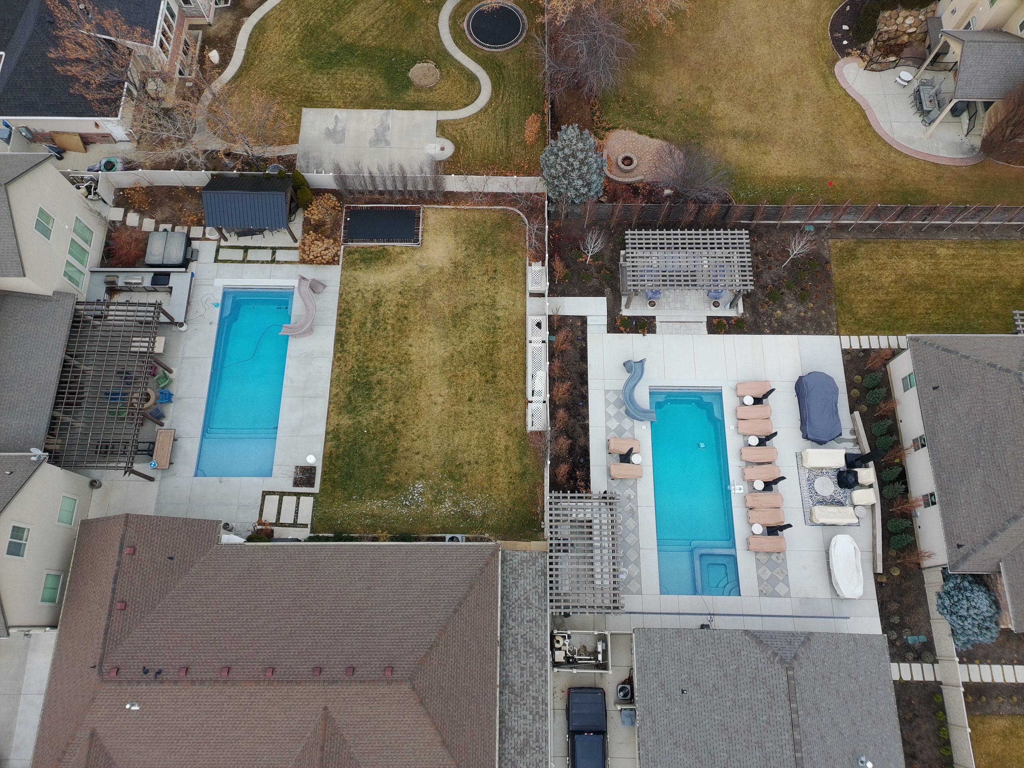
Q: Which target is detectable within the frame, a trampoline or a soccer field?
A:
trampoline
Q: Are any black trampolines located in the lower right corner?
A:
No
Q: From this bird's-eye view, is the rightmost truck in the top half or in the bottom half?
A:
bottom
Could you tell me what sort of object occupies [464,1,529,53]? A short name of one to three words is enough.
trampoline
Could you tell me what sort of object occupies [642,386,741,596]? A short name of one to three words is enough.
swimming pool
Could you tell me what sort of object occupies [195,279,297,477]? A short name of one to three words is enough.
swimming pool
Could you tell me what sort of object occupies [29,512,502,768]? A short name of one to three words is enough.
house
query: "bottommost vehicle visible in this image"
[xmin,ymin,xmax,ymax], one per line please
[566,684,613,768]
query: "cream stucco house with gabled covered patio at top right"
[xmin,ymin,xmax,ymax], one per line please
[912,0,1024,138]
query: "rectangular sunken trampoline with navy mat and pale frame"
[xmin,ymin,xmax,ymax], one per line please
[340,204,425,250]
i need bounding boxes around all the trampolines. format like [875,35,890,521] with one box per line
[340,204,425,250]
[464,1,529,53]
